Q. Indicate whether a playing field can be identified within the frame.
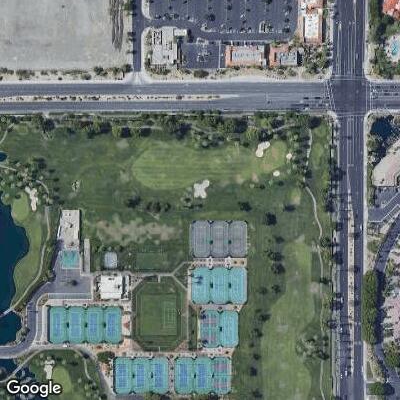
Yes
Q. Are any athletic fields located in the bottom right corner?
No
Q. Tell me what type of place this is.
golf course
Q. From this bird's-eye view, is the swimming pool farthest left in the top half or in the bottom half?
bottom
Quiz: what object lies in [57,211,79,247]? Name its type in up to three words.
building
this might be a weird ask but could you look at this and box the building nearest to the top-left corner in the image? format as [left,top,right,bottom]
[151,28,177,63]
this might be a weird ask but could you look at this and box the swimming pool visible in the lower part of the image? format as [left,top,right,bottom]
[60,251,80,270]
